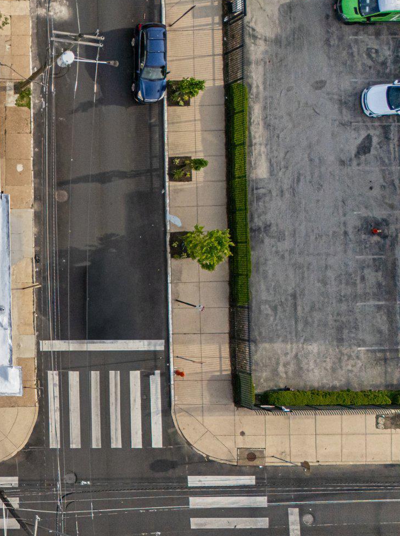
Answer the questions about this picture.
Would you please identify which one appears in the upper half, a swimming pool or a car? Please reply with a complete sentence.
Looking in the upper half, you will find a car.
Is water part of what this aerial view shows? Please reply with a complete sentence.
No, the scene doesn't show any water.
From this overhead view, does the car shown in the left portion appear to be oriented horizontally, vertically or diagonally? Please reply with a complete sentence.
The car shown in the left portion is oriented vertically.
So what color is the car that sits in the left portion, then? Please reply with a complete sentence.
The color of the car that sits in the left portion is blue.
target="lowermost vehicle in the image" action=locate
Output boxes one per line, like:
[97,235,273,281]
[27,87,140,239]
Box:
[359,79,400,116]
